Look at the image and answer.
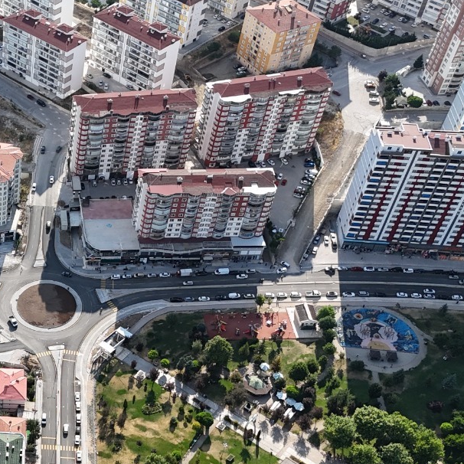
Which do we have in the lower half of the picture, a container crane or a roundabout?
roundabout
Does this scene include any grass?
Yes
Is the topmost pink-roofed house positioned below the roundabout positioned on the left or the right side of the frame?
left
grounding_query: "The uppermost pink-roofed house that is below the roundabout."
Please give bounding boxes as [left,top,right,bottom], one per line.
[0,370,28,411]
